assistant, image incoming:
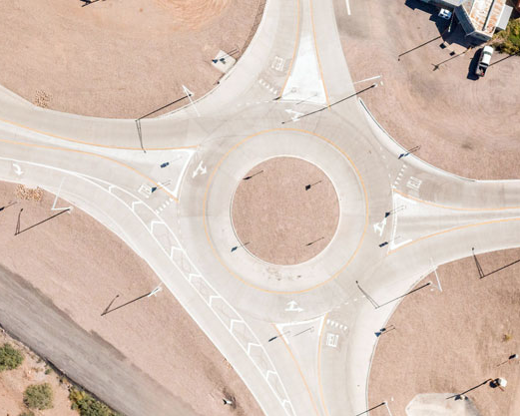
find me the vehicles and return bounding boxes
[477,47,494,76]
[437,10,452,22]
